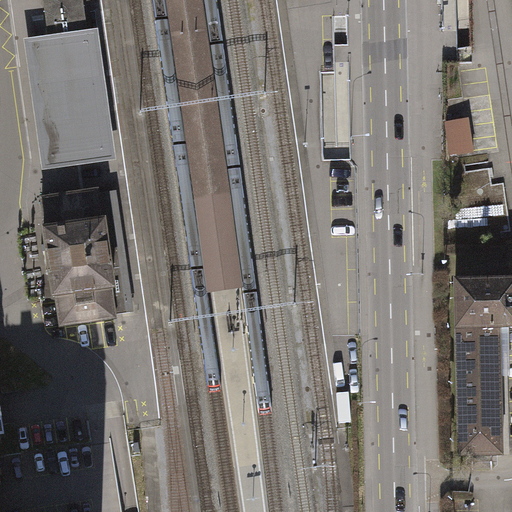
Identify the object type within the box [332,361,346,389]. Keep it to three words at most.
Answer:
vehicle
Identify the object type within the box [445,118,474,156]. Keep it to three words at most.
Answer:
building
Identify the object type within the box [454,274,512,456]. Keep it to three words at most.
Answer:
house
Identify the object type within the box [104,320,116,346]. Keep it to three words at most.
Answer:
vehicle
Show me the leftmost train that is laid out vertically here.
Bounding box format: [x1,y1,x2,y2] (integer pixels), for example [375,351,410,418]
[152,0,220,395]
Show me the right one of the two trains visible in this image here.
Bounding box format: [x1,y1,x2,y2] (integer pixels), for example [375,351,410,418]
[204,0,272,417]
